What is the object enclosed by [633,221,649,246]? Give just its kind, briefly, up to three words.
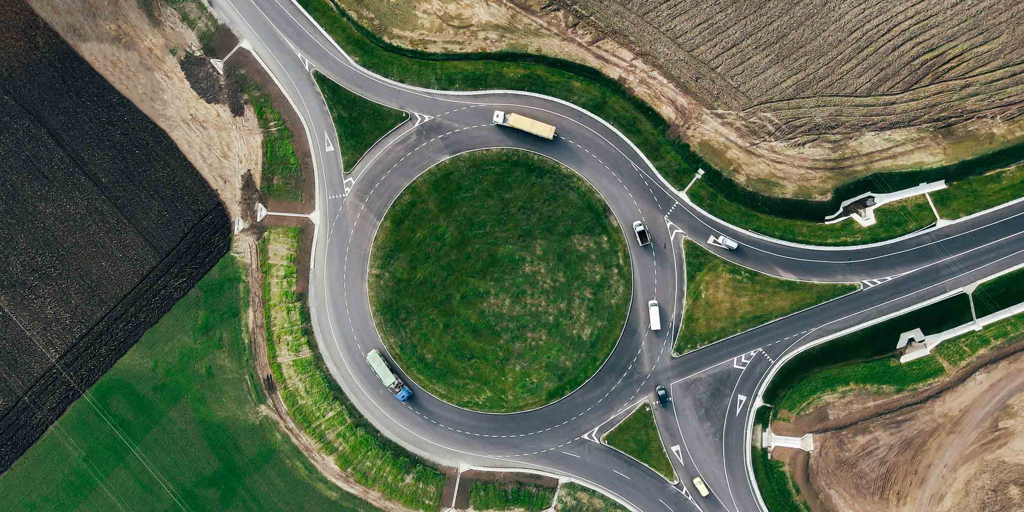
vehicle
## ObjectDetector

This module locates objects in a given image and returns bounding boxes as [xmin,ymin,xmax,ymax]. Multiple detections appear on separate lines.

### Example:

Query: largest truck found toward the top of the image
[492,109,556,140]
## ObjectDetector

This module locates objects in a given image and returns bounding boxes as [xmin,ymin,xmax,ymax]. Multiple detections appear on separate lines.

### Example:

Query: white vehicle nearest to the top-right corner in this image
[717,235,738,250]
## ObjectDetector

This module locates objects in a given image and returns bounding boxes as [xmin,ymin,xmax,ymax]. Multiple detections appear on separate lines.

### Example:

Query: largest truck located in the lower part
[366,349,414,402]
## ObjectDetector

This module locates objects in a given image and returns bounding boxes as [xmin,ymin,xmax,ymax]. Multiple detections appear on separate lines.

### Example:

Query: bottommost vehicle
[692,475,708,496]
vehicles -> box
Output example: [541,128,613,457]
[492,109,556,140]
[647,300,660,330]
[633,221,649,246]
[717,235,738,250]
[692,475,708,496]
[366,349,414,402]
[656,384,668,406]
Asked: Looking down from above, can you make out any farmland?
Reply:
Yes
